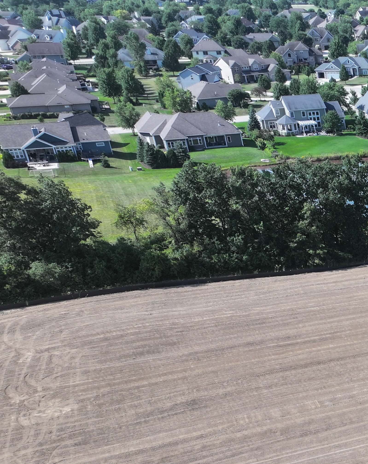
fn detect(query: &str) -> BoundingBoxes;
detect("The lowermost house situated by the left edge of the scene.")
[0,119,121,162]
